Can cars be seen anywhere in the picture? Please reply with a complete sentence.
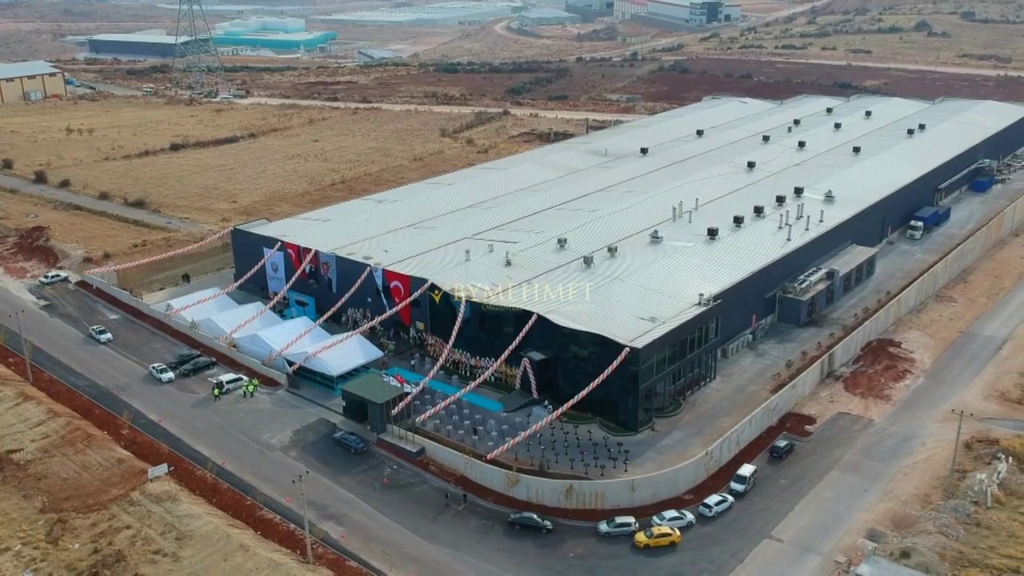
Yes, looking at the shot, I can spot a car.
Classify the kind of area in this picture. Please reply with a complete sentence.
This image shows an industrial area.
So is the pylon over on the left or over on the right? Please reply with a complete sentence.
You can find the pylon on the left side of the picture.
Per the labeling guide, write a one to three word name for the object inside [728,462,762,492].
vehicle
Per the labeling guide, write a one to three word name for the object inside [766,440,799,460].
car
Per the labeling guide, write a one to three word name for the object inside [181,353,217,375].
car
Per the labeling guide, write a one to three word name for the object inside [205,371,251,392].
vehicle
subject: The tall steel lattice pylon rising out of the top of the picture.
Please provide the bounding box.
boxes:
[158,0,238,94]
